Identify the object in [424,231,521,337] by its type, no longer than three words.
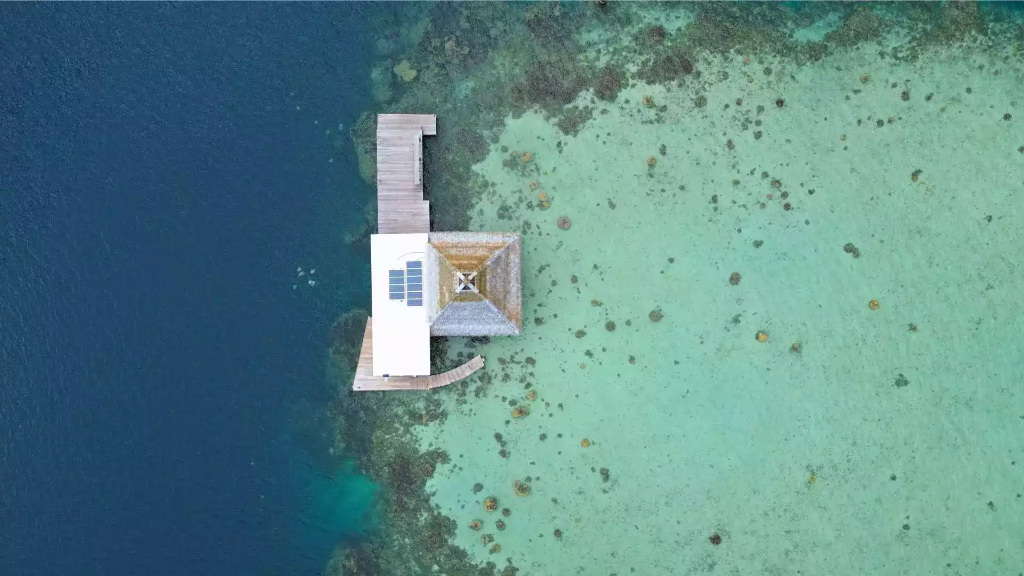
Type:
building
